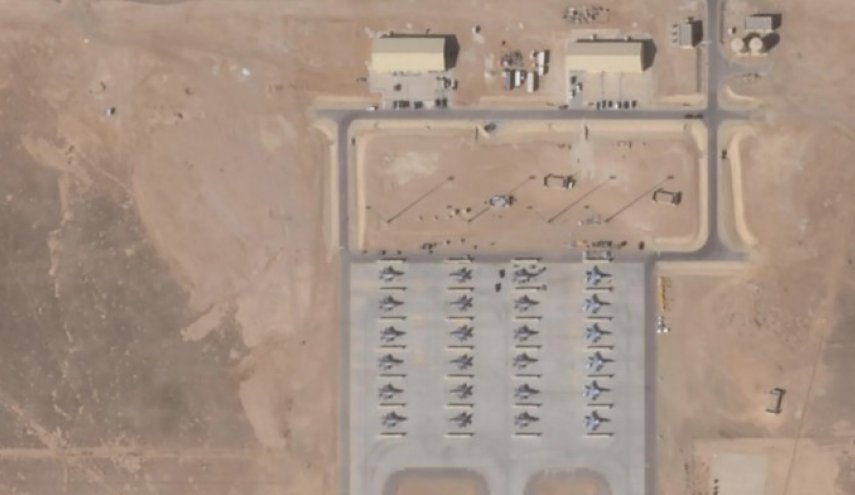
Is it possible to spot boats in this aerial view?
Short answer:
No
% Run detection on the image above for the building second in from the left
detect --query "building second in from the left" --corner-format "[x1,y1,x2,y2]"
[565,42,644,73]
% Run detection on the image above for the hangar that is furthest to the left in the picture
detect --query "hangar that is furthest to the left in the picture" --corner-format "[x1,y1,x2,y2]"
[371,38,447,72]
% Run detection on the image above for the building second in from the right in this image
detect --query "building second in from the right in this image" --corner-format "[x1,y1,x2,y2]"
[680,23,694,48]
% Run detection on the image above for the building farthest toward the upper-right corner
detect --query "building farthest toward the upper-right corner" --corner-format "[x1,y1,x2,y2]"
[746,17,773,31]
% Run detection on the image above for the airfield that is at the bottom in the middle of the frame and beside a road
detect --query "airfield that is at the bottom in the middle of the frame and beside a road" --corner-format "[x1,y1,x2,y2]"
[337,261,656,495]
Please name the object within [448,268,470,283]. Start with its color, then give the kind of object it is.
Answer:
gray airplane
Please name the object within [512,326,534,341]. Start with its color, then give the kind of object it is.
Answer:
gray airplane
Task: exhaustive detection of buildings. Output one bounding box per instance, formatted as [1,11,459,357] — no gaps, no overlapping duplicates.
[565,42,644,73]
[371,38,447,72]
[746,17,773,31]
[680,23,694,48]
